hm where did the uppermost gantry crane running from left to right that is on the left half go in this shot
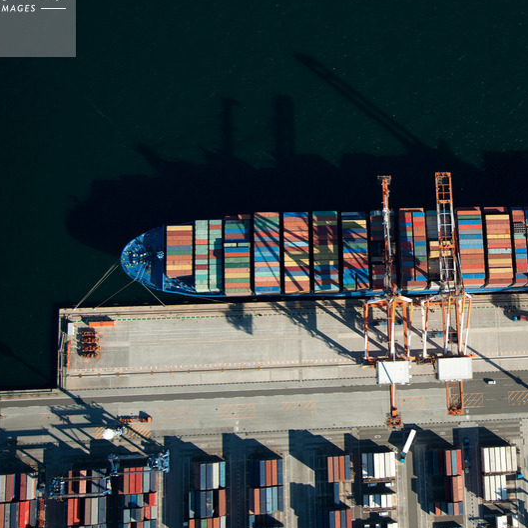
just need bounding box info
[109,447,180,476]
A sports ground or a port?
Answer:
port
